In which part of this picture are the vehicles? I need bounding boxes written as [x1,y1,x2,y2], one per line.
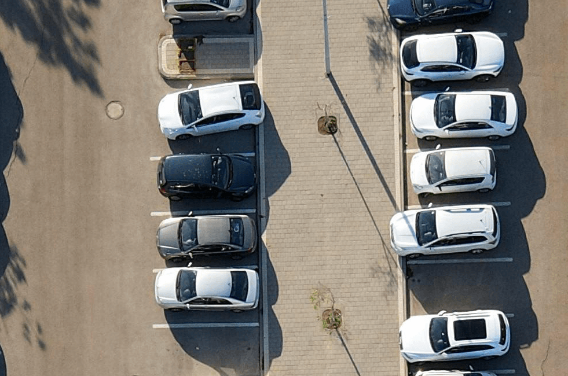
[400,24,504,85]
[158,80,264,140]
[155,260,258,312]
[386,0,496,29]
[409,81,519,139]
[157,208,258,262]
[157,146,257,200]
[389,199,500,257]
[410,141,496,196]
[161,0,247,24]
[399,305,510,361]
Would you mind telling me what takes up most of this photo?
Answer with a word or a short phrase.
paved ground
